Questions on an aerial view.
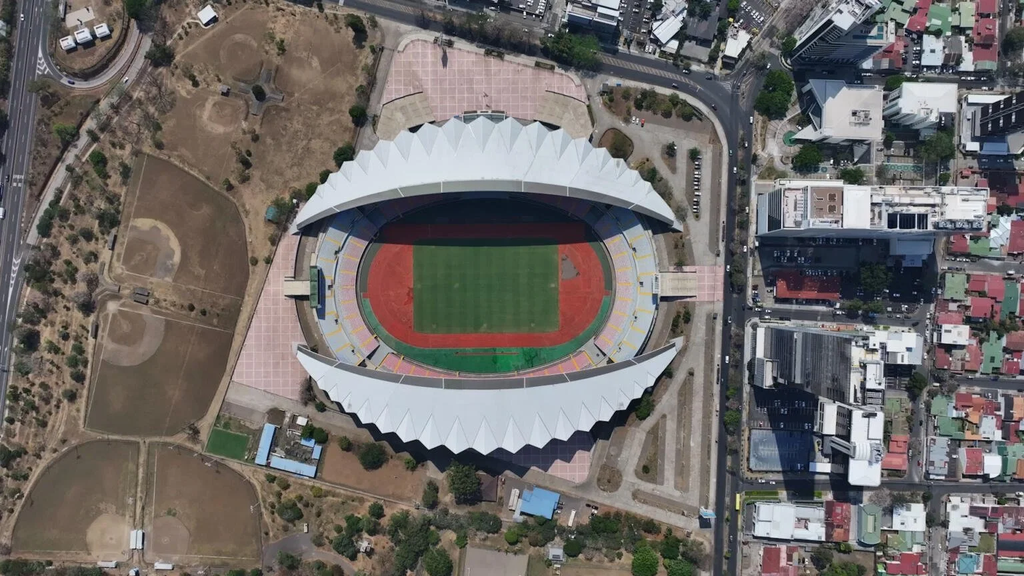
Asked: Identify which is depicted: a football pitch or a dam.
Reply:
football pitch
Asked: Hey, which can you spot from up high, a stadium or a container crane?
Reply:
stadium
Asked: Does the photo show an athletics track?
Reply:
Yes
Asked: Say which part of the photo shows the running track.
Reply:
center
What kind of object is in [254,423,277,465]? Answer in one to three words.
shed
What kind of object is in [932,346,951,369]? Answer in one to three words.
house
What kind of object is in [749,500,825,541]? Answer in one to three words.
building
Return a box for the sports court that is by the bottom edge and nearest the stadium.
[465,545,528,576]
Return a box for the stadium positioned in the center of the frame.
[285,90,696,455]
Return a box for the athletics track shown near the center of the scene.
[368,223,611,348]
